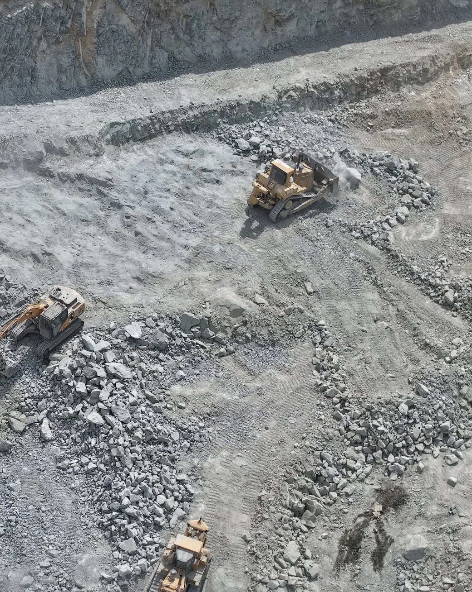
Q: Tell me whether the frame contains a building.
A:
No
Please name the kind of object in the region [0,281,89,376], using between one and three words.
work vehicle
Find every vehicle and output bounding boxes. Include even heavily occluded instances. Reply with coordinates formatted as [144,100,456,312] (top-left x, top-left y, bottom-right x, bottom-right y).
[247,150,341,224]
[0,281,89,376]
[150,520,214,592]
